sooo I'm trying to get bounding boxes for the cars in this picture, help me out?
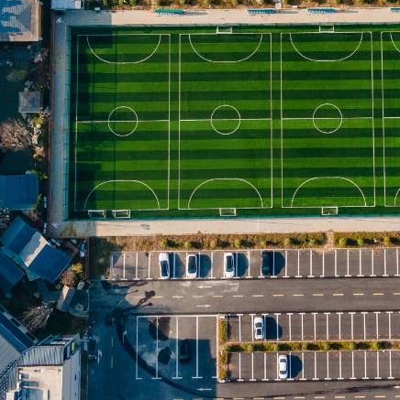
[223,253,234,277]
[160,253,169,277]
[180,338,190,362]
[186,253,197,276]
[262,253,272,276]
[278,354,288,378]
[253,316,264,338]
